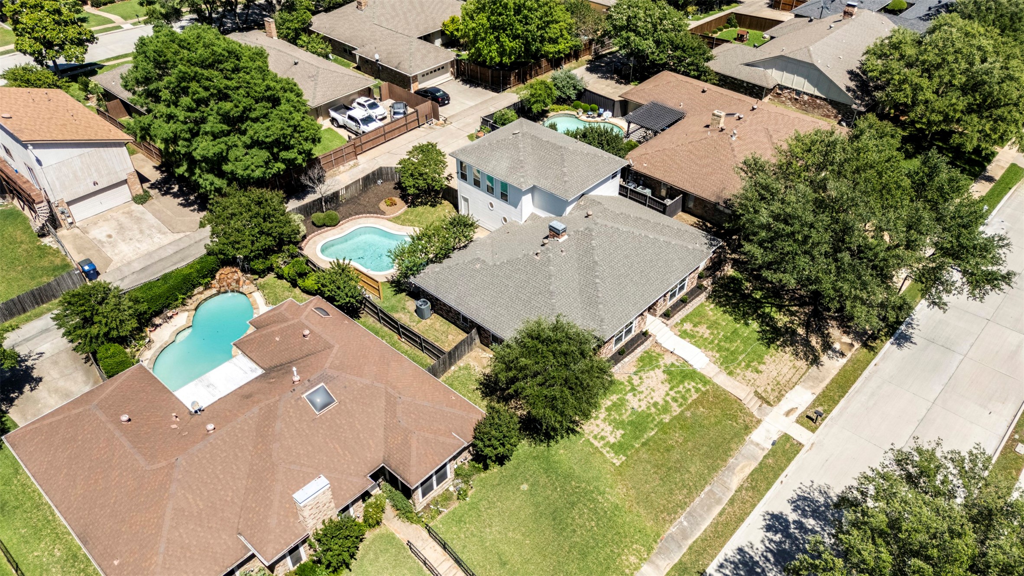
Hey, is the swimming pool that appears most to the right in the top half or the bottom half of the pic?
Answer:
top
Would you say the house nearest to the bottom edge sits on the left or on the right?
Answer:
left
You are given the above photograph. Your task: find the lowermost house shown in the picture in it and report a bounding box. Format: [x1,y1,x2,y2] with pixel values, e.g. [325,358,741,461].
[0,294,481,576]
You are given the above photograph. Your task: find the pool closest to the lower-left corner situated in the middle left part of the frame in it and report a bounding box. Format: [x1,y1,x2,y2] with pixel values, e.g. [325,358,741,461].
[145,285,263,393]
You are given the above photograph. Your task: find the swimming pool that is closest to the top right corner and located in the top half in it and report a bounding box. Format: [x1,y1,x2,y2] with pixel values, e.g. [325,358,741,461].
[539,110,628,140]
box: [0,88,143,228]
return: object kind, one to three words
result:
house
